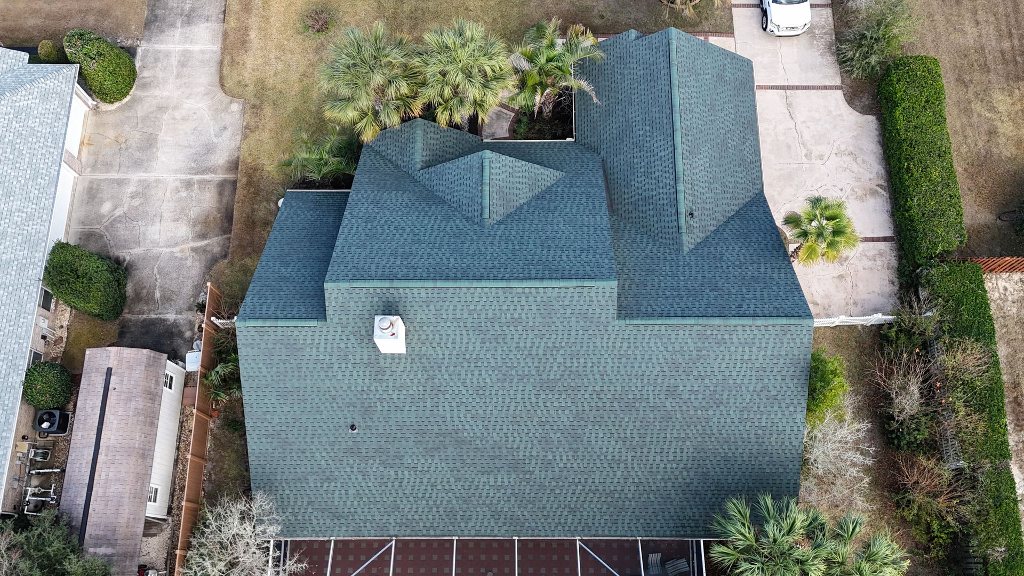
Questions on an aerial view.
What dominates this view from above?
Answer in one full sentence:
Most of the picture is covered by buildings.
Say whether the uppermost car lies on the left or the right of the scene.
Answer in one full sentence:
The uppermost car appears in the right half of the scene.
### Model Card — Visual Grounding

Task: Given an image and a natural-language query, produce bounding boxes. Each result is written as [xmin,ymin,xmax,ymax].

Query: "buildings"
[50,347,184,576]
[237,29,814,543]
[0,48,96,517]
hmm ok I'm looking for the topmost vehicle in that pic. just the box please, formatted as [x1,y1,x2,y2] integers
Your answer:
[758,0,808,38]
